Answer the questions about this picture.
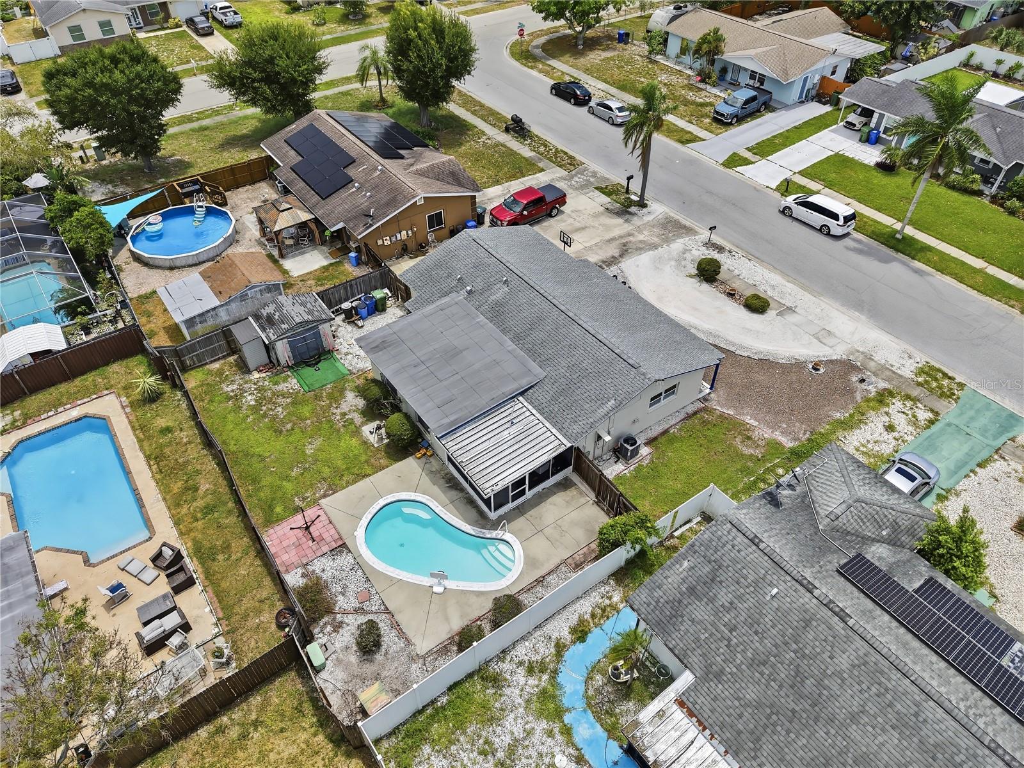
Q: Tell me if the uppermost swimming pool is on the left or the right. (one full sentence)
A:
The uppermost swimming pool sits on the left side.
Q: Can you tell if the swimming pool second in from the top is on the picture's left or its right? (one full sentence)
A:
The swimming pool second in from the top sits on the left side.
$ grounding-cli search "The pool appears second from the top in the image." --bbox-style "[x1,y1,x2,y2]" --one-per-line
[0,260,73,331]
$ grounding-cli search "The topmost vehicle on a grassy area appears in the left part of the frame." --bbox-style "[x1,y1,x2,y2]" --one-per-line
[206,0,239,26]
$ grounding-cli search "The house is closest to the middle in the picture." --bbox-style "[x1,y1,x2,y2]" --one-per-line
[355,226,723,521]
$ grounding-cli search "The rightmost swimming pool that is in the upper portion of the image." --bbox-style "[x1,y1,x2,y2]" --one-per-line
[126,202,242,276]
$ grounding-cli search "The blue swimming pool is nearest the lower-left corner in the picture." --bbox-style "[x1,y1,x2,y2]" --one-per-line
[0,412,154,566]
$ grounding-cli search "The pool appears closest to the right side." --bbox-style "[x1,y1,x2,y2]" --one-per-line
[355,491,524,590]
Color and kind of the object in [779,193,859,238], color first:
white vehicle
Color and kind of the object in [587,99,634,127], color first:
gray car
